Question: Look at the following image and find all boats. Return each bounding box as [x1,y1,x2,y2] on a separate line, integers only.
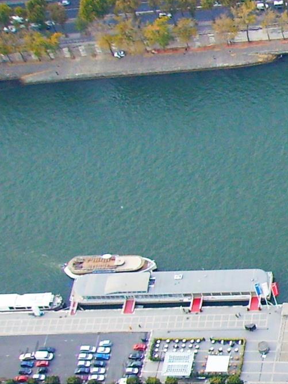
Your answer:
[0,292,69,313]
[68,253,154,277]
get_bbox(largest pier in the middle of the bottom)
[72,271,274,309]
